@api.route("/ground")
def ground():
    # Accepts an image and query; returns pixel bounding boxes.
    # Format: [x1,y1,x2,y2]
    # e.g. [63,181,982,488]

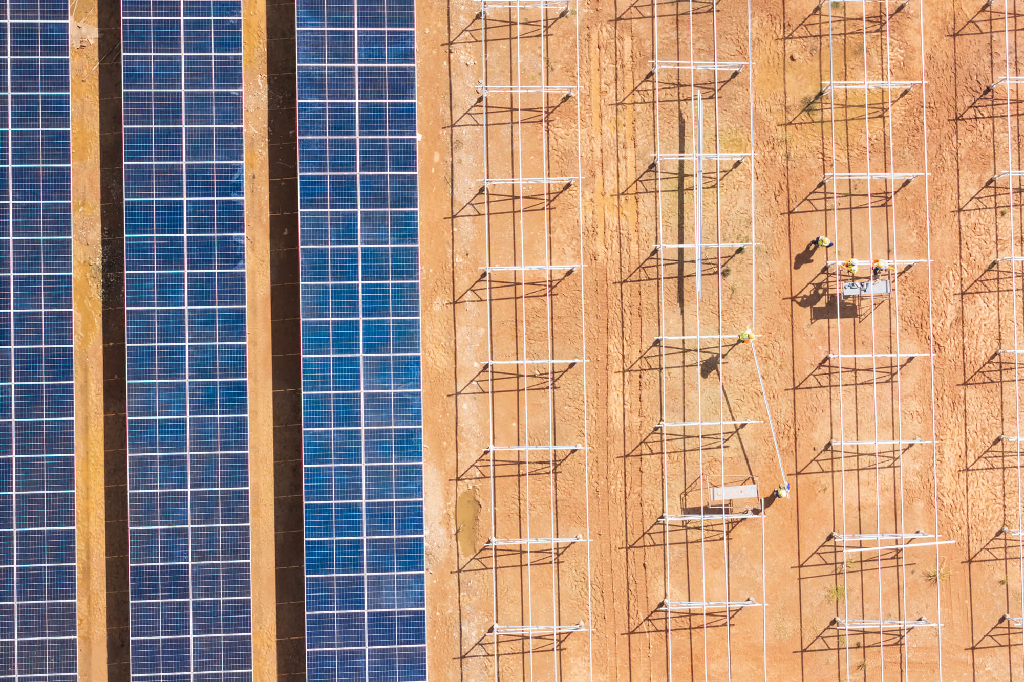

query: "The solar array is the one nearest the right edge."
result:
[295,0,427,682]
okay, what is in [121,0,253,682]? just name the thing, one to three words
solar array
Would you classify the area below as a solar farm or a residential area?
solar farm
